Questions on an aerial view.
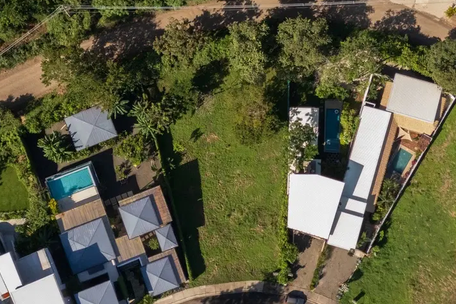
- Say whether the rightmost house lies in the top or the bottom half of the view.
top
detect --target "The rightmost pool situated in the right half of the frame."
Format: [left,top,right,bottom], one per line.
[388,142,414,176]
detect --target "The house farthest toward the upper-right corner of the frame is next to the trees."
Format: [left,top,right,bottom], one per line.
[380,73,447,136]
